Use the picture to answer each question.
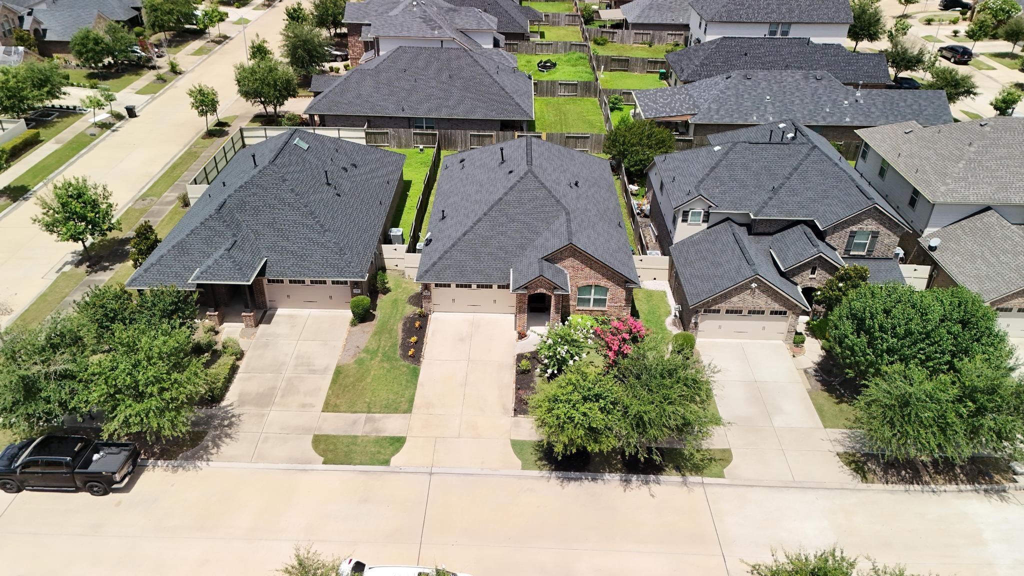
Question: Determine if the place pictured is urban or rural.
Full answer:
The area shown here is urban.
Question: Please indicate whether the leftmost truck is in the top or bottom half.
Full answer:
Seen from above, the leftmost truck lies in the bottom half of the view.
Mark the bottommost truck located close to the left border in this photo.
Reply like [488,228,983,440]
[0,440,140,501]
